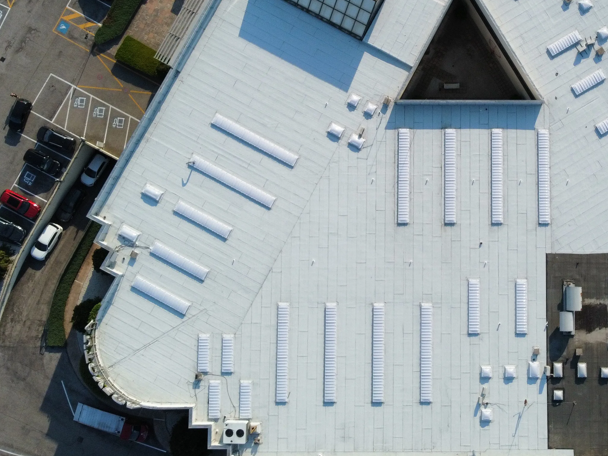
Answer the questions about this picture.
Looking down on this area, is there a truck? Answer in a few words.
Yes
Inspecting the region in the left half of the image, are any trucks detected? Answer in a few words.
Yes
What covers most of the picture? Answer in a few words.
buildings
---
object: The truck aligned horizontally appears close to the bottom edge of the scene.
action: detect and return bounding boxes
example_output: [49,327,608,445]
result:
[73,396,158,435]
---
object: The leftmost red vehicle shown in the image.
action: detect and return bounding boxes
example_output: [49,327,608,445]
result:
[0,187,41,218]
